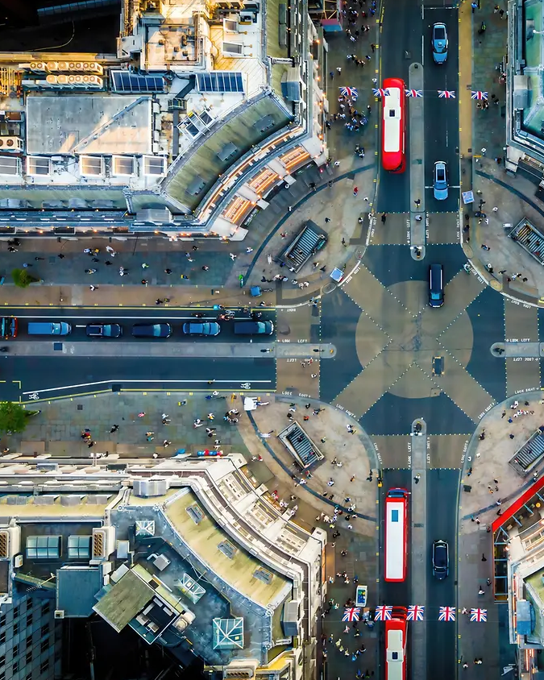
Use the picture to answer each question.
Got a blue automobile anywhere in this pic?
Yes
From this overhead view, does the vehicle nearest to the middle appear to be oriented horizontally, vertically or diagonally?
horizontally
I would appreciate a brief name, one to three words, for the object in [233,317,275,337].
vehicle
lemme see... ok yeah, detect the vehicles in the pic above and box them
[182,319,222,338]
[27,319,72,338]
[382,490,408,581]
[382,608,408,680]
[430,26,447,64]
[134,320,174,340]
[431,163,450,202]
[379,78,405,174]
[0,314,22,340]
[85,322,125,340]
[426,265,445,306]
[233,317,275,337]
